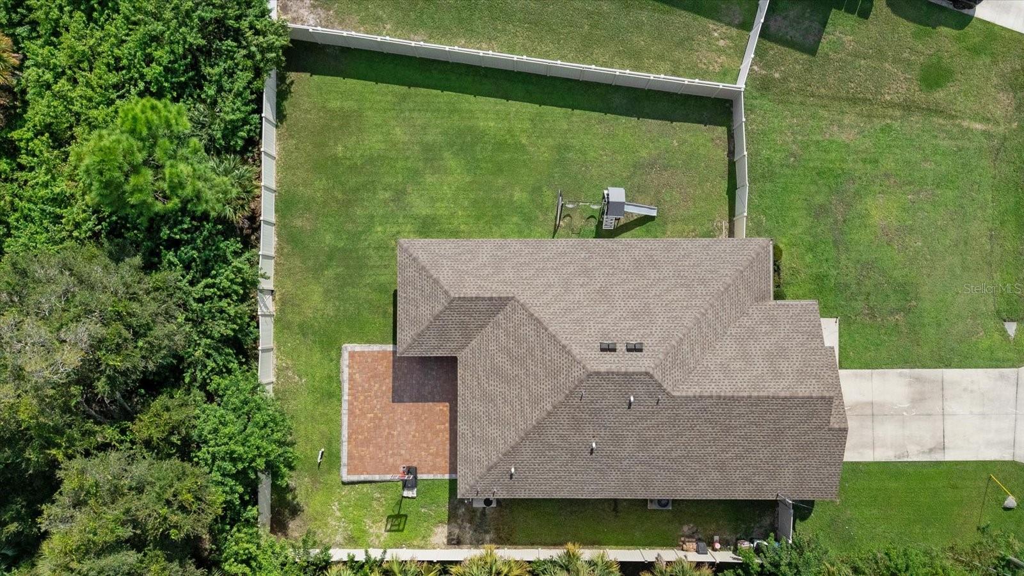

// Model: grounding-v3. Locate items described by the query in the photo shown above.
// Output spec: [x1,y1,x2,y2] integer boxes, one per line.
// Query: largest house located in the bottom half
[396,237,852,500]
